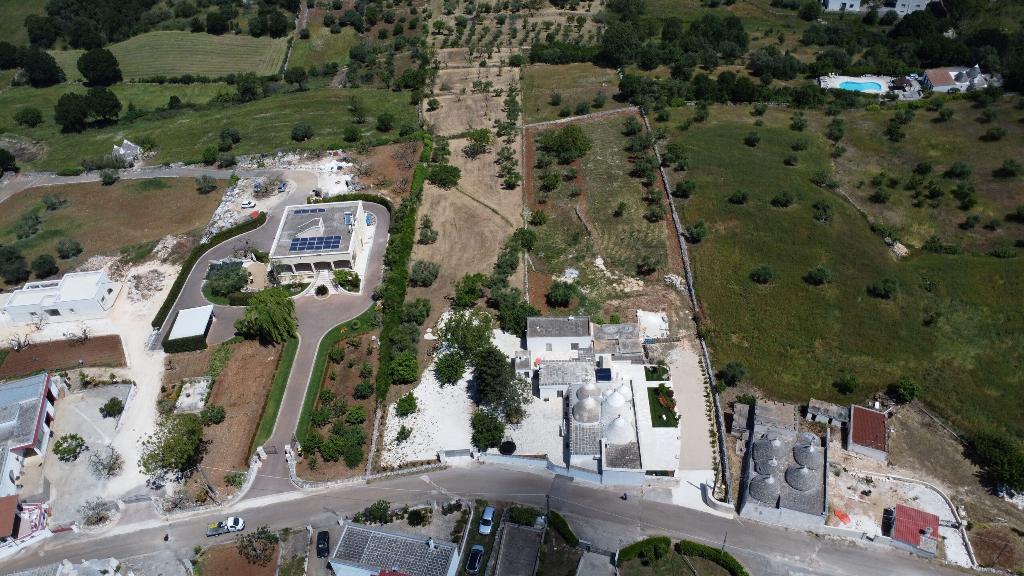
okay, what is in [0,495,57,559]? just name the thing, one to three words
house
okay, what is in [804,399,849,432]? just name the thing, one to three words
shed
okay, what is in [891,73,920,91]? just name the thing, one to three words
gazebo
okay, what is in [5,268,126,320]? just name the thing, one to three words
house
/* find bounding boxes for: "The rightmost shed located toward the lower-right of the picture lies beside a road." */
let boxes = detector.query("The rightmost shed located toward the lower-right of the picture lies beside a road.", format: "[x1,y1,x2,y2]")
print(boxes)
[885,504,939,570]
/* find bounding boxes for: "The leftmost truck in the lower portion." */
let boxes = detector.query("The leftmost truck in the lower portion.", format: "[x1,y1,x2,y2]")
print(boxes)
[206,517,245,541]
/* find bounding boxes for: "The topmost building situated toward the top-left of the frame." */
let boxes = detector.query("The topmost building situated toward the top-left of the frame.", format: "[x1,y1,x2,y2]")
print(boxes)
[110,138,143,166]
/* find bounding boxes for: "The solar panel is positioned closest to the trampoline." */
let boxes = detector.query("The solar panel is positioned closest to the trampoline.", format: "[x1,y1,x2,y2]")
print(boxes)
[595,365,614,383]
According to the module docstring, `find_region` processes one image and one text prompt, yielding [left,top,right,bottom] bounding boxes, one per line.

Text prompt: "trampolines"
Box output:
[495,432,521,456]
